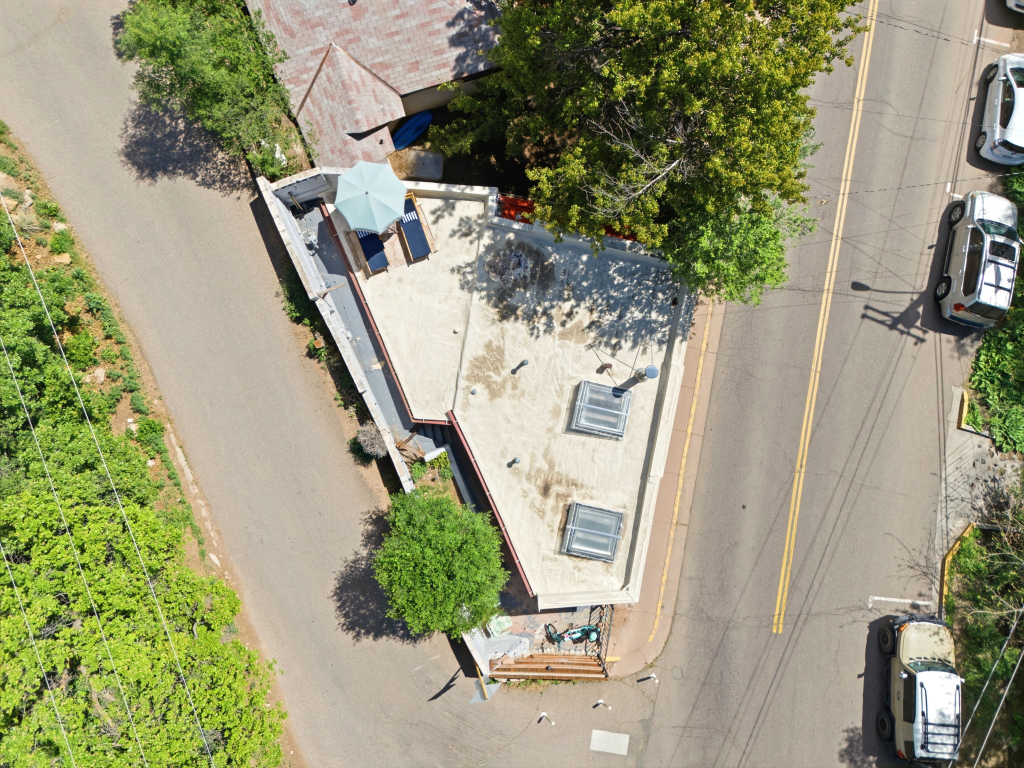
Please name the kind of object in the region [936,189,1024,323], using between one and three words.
car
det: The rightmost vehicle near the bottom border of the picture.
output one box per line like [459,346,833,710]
[877,608,968,768]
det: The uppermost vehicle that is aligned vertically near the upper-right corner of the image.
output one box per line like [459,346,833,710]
[975,51,1024,170]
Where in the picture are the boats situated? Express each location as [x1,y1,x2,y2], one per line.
[395,110,432,150]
